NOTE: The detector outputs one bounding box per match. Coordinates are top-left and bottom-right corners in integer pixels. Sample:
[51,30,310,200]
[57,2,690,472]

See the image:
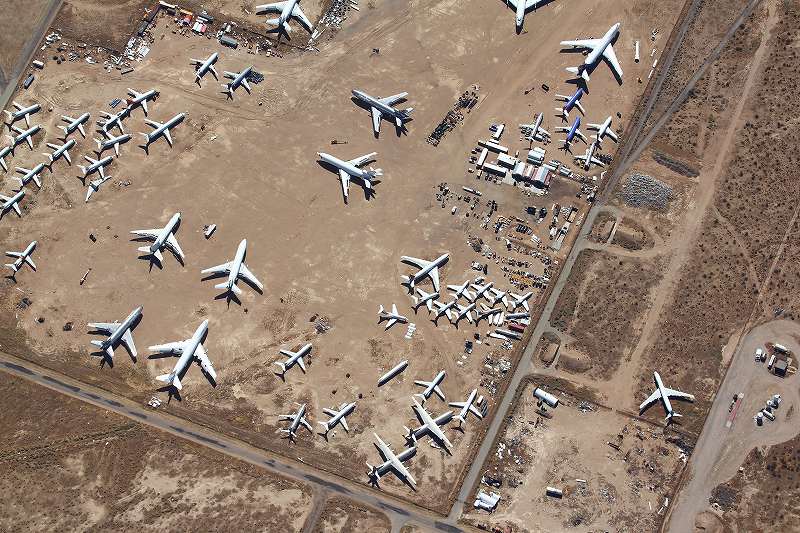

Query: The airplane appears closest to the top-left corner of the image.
[9,102,40,125]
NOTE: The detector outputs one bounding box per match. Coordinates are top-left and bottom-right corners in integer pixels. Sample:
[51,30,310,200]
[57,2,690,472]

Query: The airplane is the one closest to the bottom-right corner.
[639,372,693,419]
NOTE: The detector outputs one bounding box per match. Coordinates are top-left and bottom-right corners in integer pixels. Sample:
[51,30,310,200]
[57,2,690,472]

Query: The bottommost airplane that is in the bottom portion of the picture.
[368,435,418,487]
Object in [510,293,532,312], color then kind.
white airplane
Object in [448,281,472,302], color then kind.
white airplane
